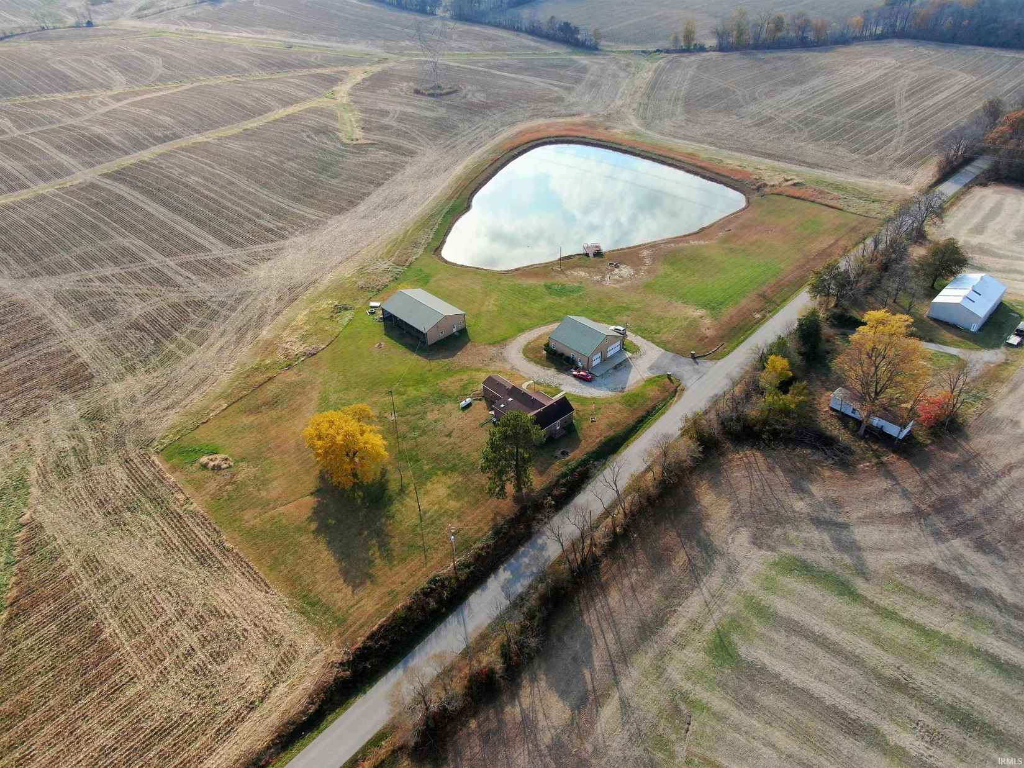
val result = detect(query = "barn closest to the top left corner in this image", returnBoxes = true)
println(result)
[380,290,467,345]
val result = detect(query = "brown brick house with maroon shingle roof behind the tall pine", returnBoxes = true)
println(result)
[480,374,575,438]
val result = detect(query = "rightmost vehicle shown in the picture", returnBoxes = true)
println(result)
[1007,331,1023,346]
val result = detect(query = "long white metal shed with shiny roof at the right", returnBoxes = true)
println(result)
[929,274,1008,331]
